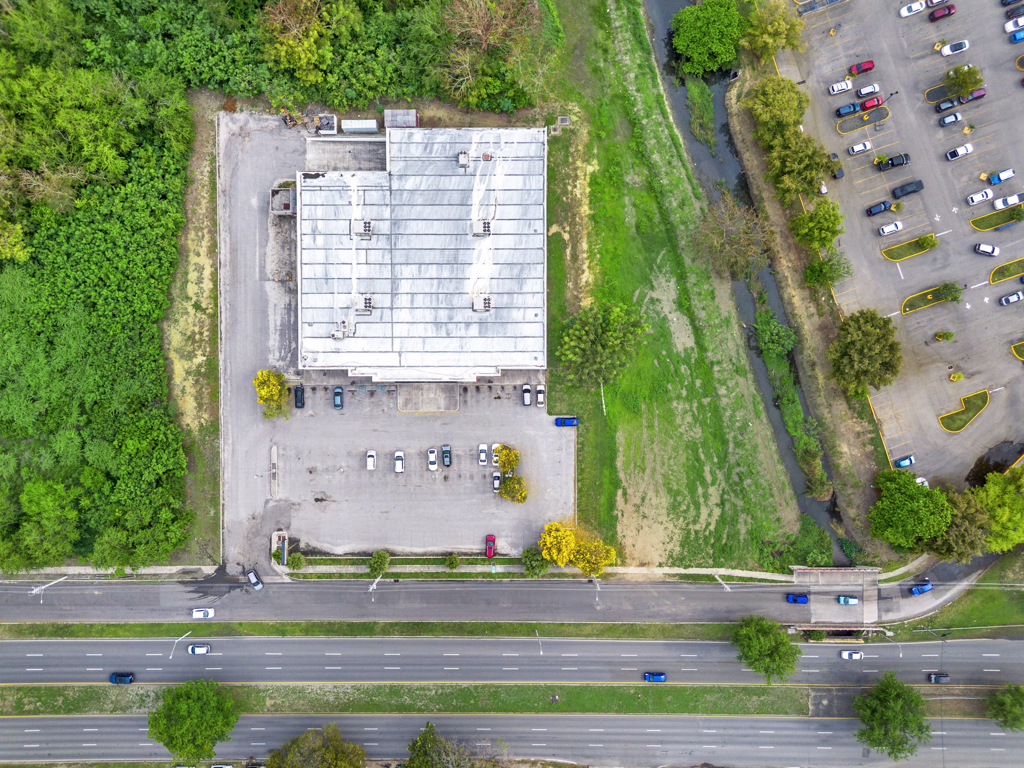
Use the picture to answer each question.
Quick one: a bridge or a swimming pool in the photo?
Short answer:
bridge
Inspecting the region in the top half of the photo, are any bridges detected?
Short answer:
No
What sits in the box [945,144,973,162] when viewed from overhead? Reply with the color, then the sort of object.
white vehicle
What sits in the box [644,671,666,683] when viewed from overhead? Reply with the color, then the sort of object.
blue vehicle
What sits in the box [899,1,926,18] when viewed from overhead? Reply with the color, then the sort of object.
white car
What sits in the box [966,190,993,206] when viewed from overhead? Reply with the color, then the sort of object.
white car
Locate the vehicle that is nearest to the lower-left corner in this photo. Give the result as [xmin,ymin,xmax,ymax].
[110,672,136,685]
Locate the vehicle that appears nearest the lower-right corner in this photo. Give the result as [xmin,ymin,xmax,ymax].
[928,672,951,685]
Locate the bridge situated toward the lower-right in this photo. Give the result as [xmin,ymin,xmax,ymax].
[792,564,884,638]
